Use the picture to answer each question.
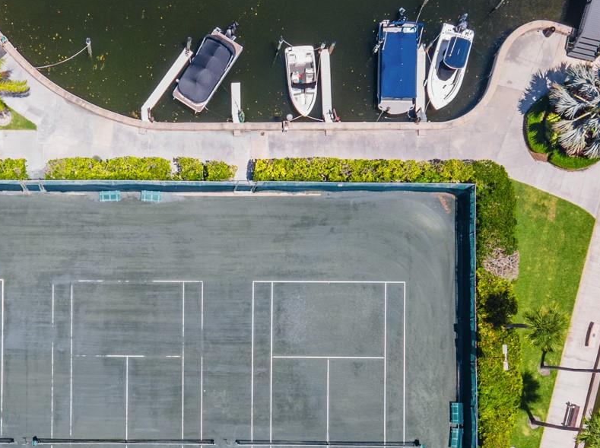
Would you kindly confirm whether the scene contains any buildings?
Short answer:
No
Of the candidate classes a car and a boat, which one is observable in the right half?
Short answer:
boat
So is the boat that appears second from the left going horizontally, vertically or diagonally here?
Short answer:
vertically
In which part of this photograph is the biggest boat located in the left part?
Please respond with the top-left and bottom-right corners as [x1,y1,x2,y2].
[171,25,244,114]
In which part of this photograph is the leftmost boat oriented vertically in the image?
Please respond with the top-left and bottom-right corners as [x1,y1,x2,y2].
[288,42,320,114]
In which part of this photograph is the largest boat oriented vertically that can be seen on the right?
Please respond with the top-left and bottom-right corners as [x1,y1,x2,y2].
[378,5,425,115]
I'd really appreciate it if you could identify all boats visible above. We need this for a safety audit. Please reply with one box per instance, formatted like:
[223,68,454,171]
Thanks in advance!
[288,42,320,114]
[378,5,425,115]
[430,13,478,108]
[171,25,244,114]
